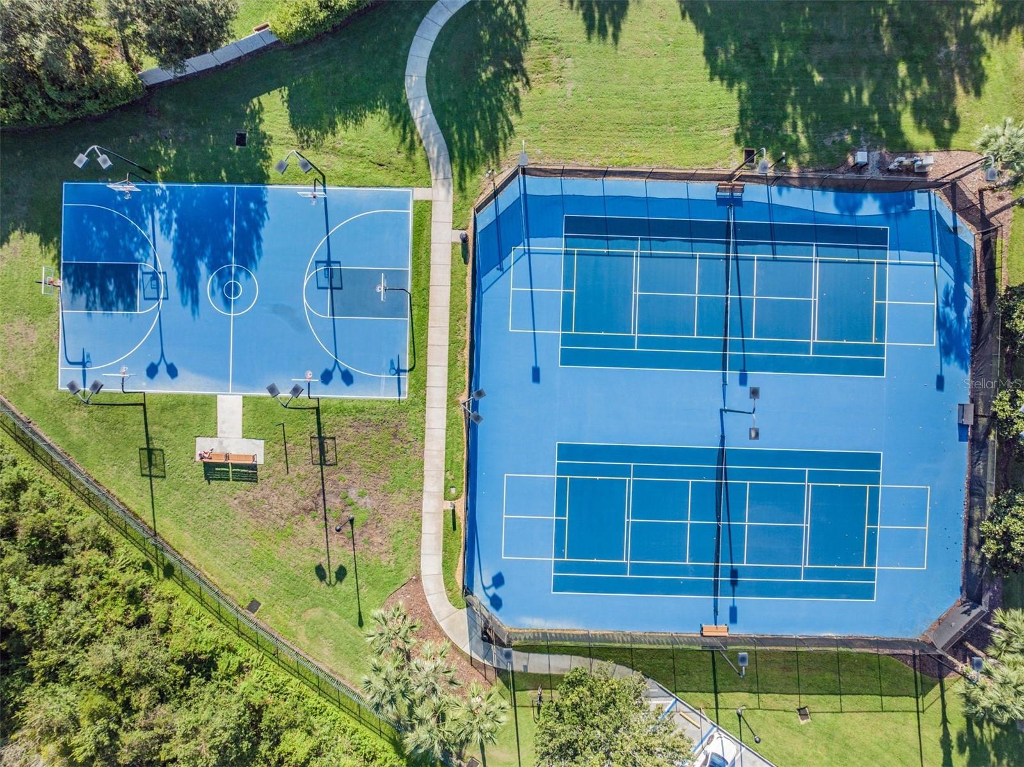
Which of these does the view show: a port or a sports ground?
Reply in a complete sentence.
What you see here is a sports ground.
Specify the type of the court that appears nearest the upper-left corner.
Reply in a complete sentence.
The court that appears nearest the upper-left corner can be classified as a basketball court.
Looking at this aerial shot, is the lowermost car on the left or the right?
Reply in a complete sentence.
It is on the right.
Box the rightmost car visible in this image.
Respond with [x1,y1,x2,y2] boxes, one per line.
[682,731,733,767]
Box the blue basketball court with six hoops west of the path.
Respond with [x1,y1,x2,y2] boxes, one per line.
[57,181,413,400]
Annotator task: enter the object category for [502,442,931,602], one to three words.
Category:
tennis court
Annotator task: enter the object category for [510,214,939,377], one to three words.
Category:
tennis court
